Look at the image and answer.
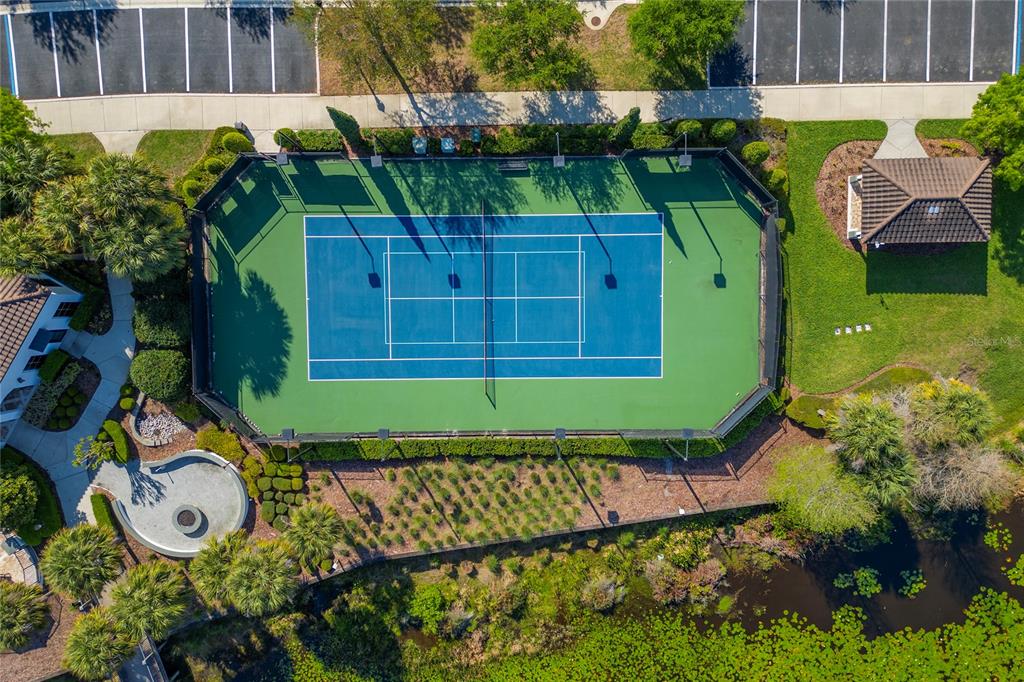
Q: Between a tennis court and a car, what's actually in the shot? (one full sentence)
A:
There is a tennis court in the scene.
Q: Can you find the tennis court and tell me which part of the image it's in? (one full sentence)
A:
The tennis court is in the center part of the image.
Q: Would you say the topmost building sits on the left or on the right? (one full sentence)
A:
It is on the right.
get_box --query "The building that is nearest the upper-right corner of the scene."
[851,156,992,246]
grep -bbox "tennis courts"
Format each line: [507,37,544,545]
[211,158,761,432]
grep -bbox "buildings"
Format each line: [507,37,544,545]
[0,257,81,445]
[851,156,992,246]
